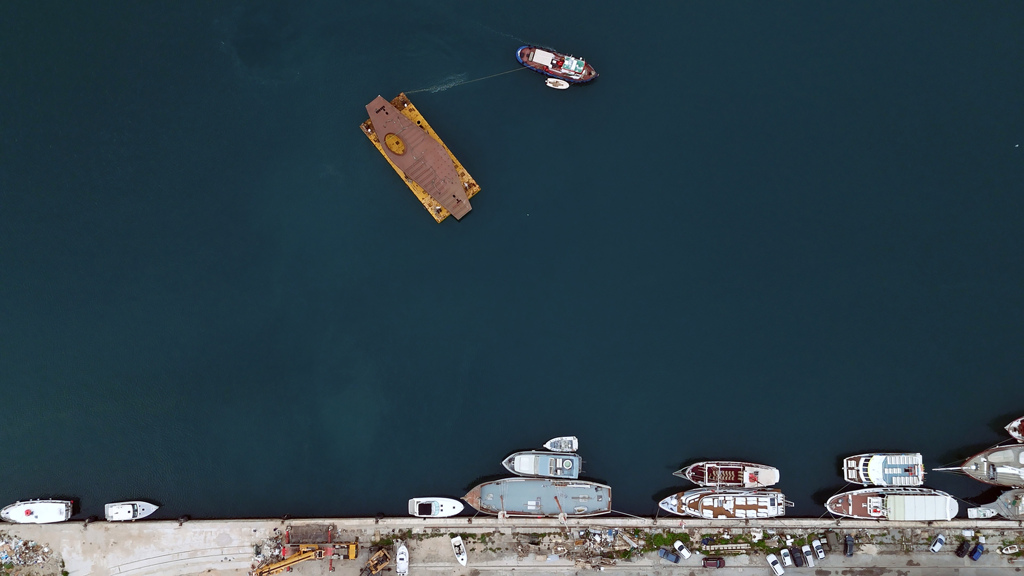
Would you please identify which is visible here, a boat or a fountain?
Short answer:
boat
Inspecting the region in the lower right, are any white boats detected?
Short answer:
Yes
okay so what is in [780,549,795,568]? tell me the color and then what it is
white car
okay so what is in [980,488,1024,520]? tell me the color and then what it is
gray boat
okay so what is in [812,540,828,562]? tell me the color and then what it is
white car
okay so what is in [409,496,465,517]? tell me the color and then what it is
white boat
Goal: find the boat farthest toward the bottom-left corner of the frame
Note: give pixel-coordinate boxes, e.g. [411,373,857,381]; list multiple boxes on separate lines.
[0,500,75,525]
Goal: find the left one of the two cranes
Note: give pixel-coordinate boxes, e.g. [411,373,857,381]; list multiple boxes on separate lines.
[248,526,359,576]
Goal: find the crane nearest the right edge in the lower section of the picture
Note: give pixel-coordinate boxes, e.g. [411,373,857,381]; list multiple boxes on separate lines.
[357,545,393,576]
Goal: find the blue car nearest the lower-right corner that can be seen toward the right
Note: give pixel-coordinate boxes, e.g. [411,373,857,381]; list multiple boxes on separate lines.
[970,544,986,564]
